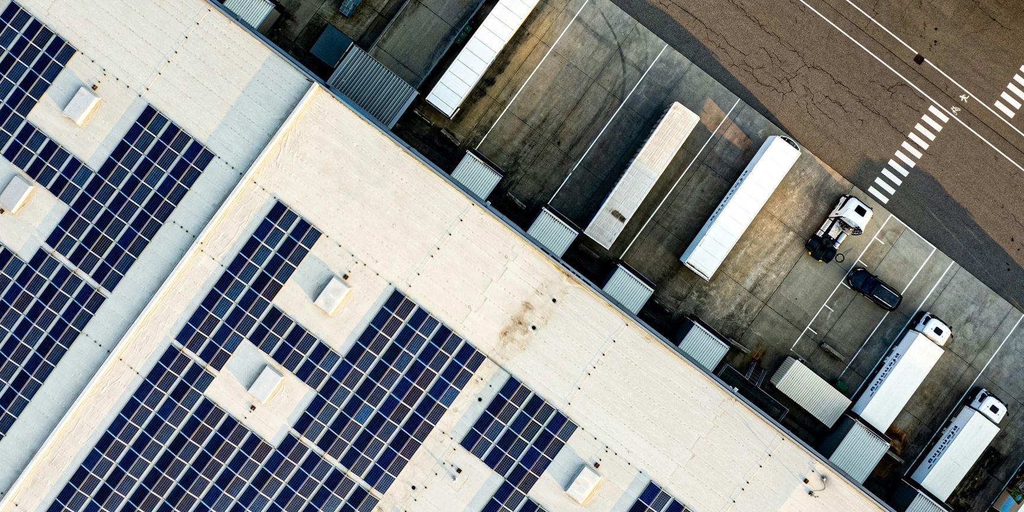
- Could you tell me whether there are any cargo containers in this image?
Yes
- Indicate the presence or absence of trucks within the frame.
Yes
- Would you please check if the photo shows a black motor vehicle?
Yes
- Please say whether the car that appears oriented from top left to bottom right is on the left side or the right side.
right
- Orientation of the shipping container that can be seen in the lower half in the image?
on a diagonal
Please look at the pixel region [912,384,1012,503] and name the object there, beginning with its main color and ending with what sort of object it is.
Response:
white truck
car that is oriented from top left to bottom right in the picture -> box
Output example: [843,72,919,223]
[846,269,903,314]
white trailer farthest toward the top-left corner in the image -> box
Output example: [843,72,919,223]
[425,0,541,120]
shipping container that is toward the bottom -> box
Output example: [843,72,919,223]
[770,355,851,428]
